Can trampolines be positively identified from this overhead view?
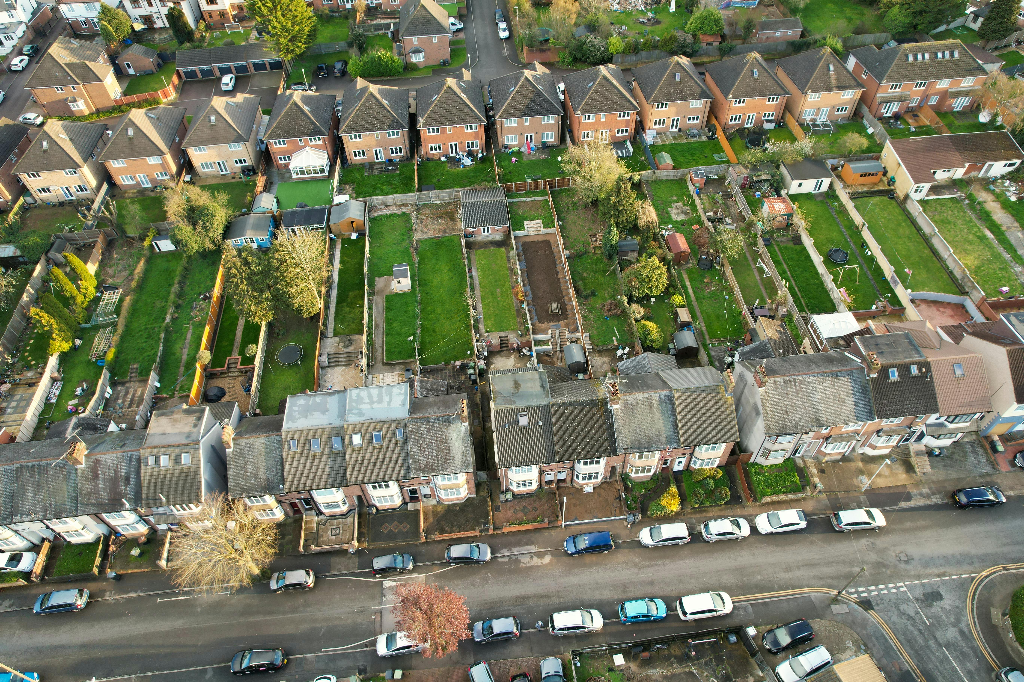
Yes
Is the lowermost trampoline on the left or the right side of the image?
left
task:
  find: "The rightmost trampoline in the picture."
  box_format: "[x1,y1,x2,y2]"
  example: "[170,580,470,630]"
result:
[824,240,855,266]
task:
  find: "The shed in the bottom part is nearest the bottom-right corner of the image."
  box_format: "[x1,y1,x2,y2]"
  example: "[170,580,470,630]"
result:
[831,654,885,682]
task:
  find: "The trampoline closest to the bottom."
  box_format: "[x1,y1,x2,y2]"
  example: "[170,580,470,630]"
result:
[273,342,305,370]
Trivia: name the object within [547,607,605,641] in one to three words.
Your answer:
car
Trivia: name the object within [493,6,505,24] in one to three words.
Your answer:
vehicle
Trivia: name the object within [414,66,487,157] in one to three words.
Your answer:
house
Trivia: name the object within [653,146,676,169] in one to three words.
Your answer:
shed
